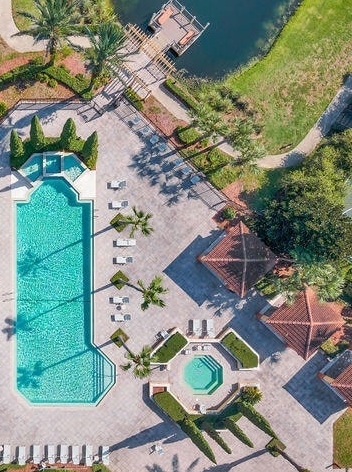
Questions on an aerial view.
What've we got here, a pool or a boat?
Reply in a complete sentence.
The image shows a pool.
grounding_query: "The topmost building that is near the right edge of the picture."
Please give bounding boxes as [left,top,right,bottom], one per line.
[255,281,348,364]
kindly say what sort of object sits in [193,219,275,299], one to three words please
building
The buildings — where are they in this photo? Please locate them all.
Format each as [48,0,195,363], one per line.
[323,359,352,410]
[193,219,275,299]
[255,281,348,364]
